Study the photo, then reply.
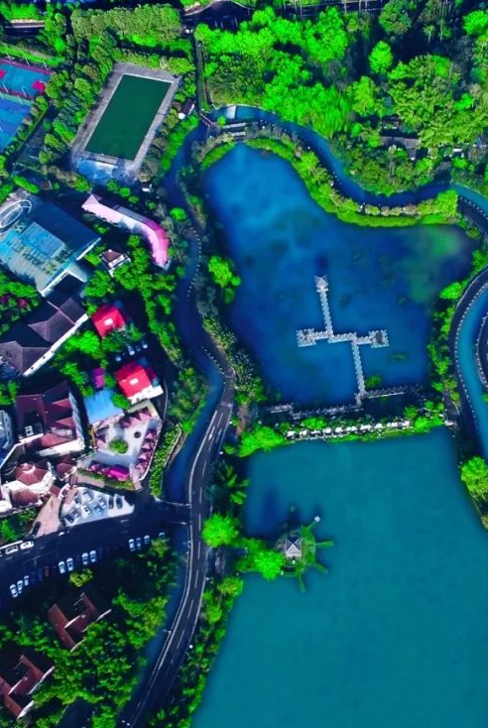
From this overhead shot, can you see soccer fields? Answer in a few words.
Yes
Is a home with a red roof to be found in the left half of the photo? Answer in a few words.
Yes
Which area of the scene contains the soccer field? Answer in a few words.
top left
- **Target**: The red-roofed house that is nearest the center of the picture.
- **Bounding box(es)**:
[114,362,163,409]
